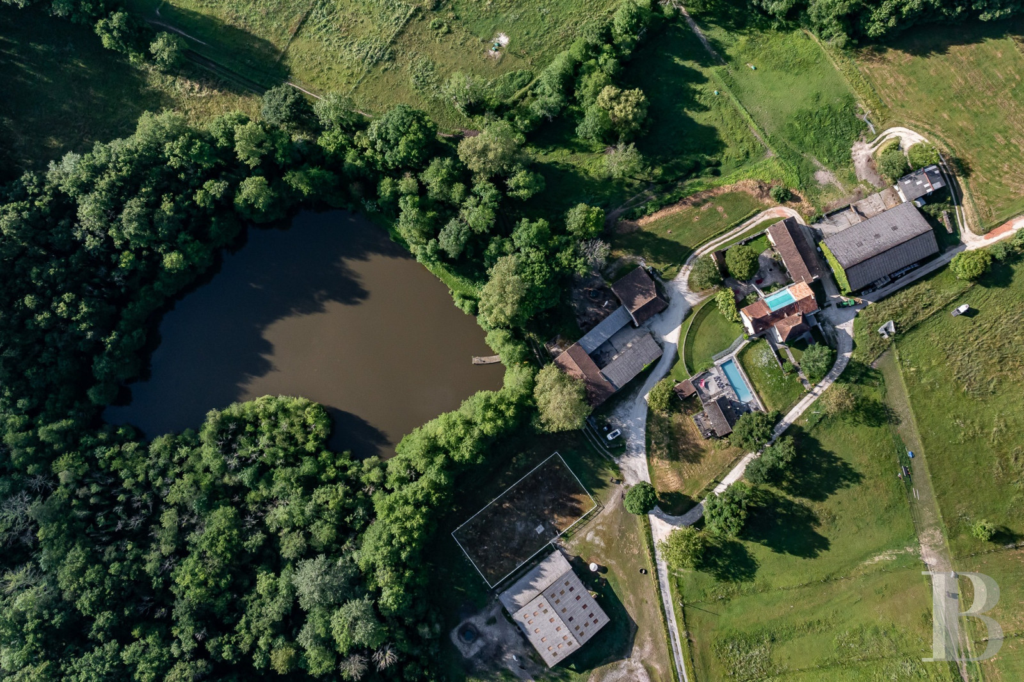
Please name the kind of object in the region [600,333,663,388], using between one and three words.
barn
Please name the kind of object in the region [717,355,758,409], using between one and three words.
swimming pool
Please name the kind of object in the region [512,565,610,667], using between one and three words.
barn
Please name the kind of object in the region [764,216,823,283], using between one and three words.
house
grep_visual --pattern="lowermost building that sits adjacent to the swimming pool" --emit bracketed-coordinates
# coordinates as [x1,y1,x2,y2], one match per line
[703,397,739,437]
